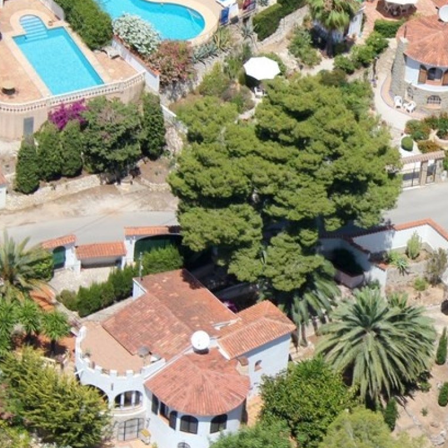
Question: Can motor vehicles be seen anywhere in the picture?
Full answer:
No, the picture doesn't show any motor vehicle.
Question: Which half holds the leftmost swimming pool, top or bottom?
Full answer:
Seen from above, the leftmost swimming pool lies in the top half of the view.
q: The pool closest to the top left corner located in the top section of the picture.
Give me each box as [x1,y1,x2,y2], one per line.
[1,10,114,99]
